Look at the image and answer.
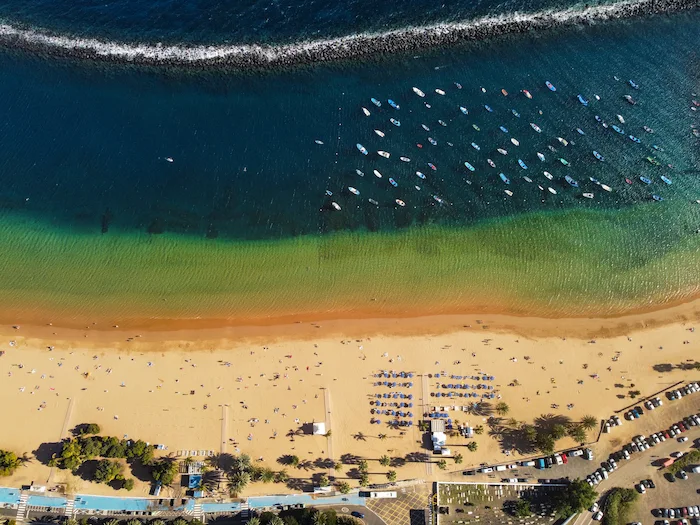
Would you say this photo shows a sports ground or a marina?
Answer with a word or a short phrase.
marina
